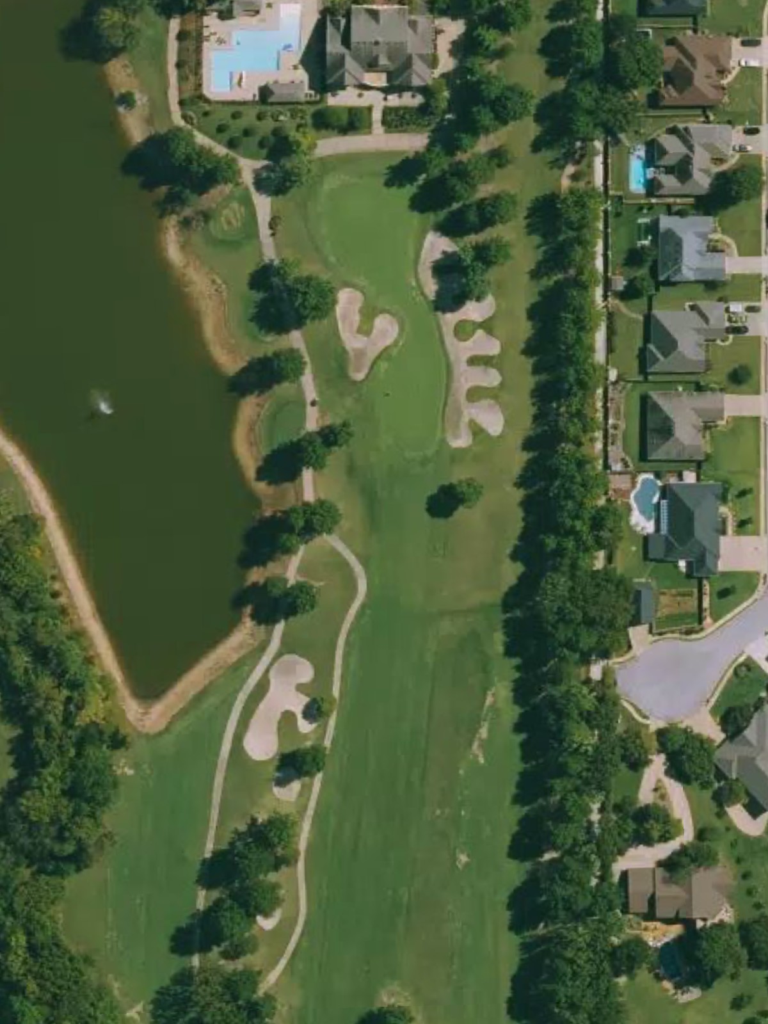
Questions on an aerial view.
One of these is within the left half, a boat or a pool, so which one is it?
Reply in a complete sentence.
The one visible within the left half is a pool.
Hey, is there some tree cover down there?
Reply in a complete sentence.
Yes, some tree cover is visible.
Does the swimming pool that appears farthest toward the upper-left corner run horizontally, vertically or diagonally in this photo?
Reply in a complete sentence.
The swimming pool that appears farthest toward the upper-left corner has been laid out diagonally relative to the frame.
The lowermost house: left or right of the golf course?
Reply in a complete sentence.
The lowermost house is to the right of the golf course.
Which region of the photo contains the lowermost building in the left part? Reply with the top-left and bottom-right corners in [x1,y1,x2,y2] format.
[259,83,305,101]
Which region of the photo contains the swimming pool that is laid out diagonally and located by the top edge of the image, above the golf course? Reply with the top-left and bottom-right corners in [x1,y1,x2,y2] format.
[210,2,303,93]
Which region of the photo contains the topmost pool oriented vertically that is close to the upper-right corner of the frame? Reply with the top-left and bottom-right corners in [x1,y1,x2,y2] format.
[628,143,646,195]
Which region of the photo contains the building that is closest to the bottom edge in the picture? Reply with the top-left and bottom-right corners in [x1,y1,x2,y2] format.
[628,866,733,920]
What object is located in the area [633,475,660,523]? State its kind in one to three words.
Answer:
swimming pool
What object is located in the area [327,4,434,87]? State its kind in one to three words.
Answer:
building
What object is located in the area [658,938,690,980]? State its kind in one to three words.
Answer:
swimming pool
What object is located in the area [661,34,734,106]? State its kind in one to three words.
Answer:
house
